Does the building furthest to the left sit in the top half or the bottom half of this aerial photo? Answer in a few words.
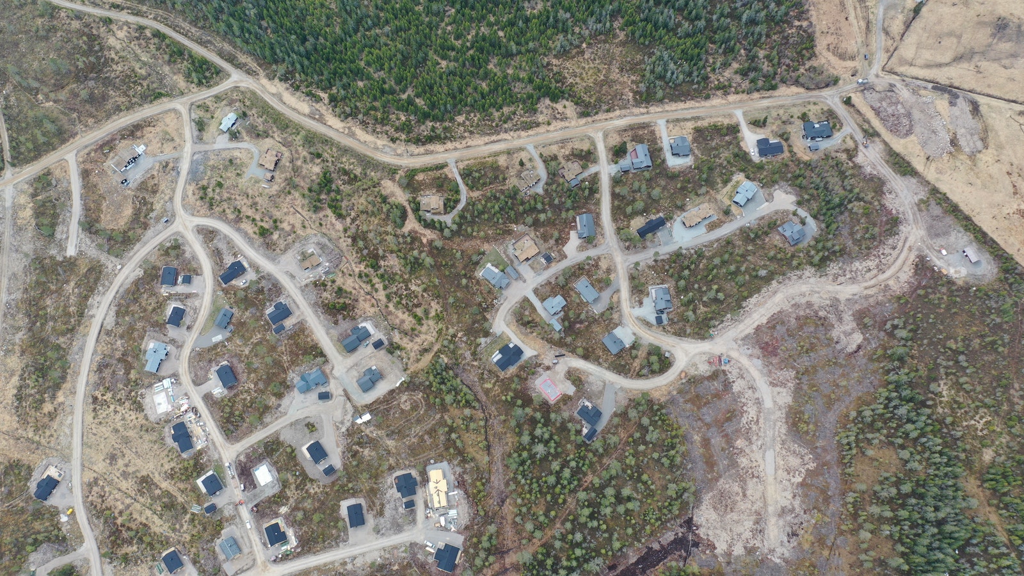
bottom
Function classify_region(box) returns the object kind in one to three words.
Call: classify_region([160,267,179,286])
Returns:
building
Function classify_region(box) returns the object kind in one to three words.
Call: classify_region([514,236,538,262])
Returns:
building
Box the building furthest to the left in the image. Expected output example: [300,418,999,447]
[35,465,65,502]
